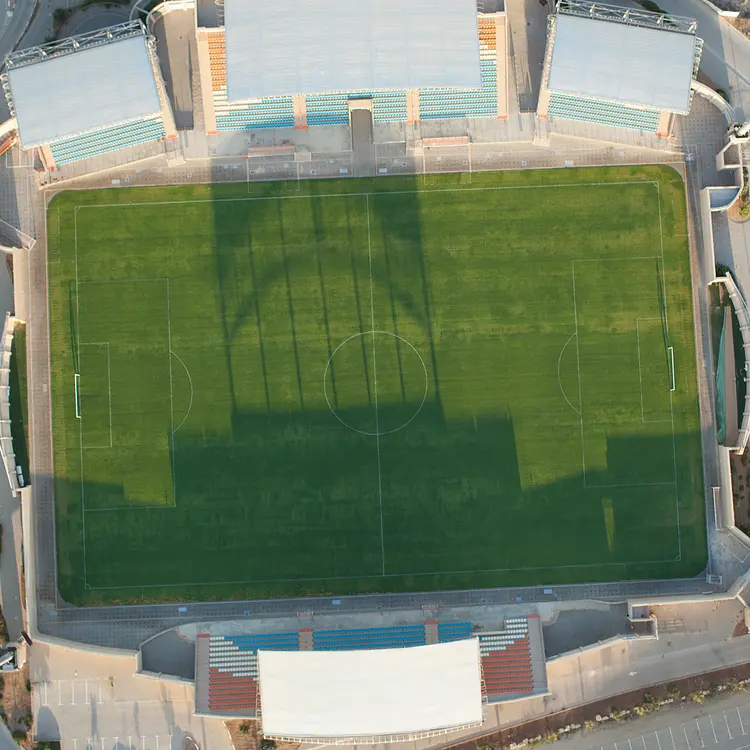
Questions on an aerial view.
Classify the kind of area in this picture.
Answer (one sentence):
This image shows a sports ground.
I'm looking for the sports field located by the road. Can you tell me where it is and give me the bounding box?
[44,161,713,610]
